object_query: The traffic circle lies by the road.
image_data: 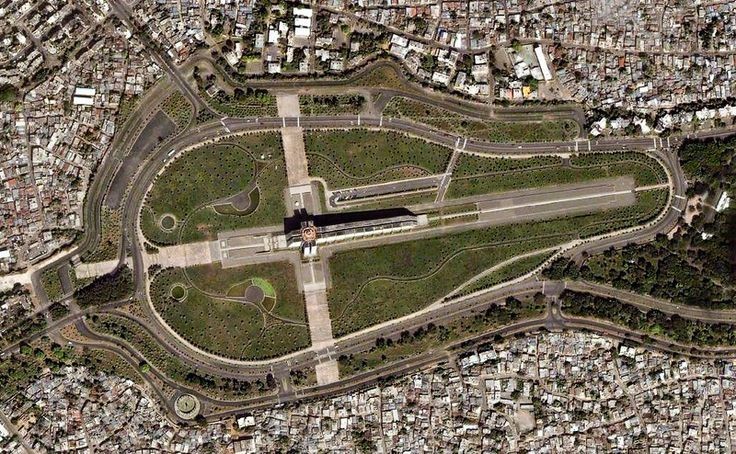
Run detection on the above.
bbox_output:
[170,389,204,424]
